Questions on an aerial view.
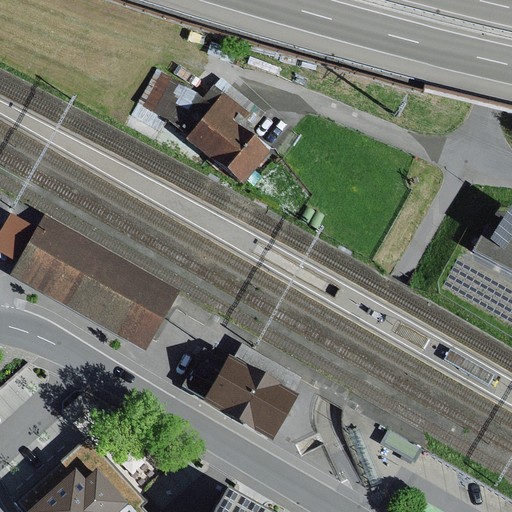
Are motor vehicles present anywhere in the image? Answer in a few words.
Yes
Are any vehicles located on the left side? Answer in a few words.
Yes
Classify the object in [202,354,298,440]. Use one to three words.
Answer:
house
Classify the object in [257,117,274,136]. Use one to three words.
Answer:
car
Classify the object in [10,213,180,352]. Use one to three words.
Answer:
building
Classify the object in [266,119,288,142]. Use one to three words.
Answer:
truck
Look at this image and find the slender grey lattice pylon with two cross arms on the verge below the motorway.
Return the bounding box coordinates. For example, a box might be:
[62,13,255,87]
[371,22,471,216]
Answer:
[392,100,411,118]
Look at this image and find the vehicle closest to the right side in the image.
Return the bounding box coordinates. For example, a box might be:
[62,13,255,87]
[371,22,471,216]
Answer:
[469,482,482,505]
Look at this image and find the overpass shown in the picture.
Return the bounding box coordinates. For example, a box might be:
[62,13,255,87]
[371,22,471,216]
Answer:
[422,86,512,115]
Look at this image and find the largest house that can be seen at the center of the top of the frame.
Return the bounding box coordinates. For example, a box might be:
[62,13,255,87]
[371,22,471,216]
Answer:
[186,93,272,184]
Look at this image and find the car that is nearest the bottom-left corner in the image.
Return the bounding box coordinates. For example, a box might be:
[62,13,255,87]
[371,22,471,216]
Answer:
[17,444,38,464]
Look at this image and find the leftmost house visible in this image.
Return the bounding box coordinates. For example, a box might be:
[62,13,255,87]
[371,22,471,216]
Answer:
[0,208,30,268]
